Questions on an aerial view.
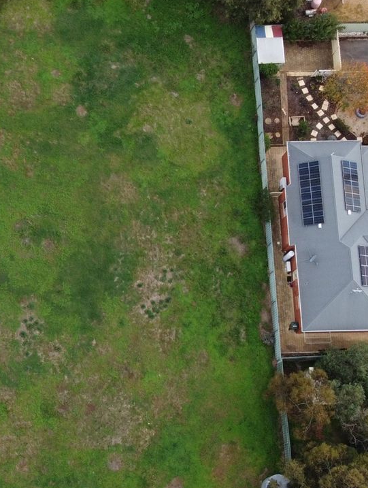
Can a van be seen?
No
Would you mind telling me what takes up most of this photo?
farmland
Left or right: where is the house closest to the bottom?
right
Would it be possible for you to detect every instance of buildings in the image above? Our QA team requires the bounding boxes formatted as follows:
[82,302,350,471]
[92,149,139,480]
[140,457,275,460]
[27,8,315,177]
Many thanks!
[249,23,284,72]
[277,139,368,336]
